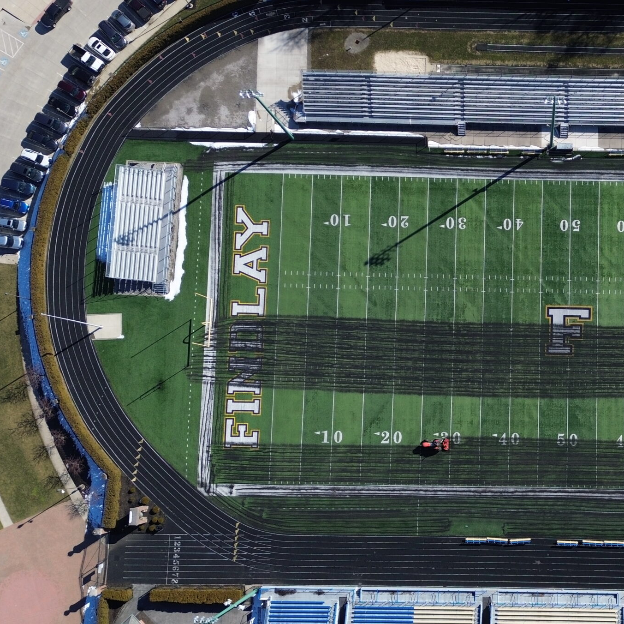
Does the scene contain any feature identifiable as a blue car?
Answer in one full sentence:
Yes, a blue car appears in the view.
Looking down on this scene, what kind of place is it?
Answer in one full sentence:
It's a sports ground.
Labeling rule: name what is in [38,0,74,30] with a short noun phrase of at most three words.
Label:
truck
